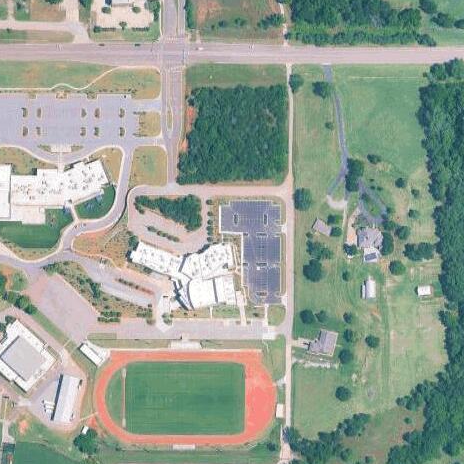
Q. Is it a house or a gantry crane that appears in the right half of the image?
house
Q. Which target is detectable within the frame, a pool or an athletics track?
athletics track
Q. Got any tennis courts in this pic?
No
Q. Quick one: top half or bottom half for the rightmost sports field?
bottom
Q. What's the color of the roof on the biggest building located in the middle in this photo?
white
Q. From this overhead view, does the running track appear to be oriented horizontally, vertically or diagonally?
horizontally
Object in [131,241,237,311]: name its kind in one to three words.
building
